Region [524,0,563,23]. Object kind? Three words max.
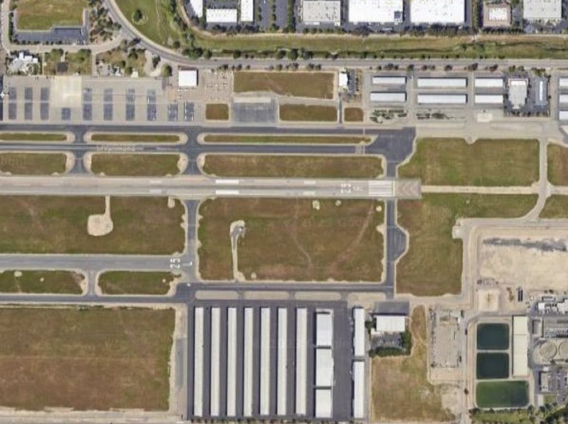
building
